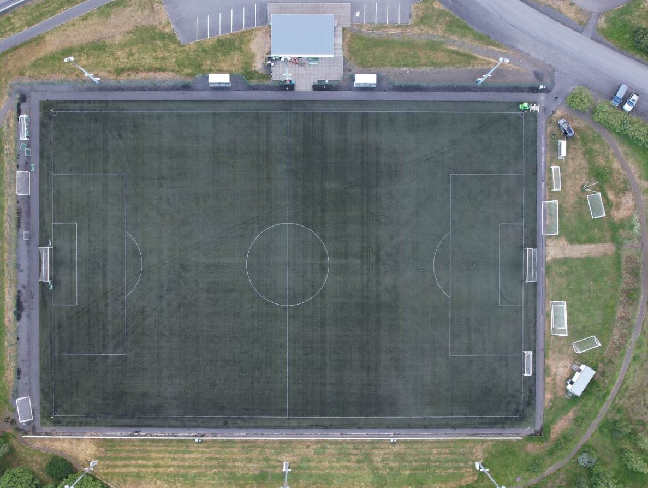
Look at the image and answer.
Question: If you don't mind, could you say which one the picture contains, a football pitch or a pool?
football pitch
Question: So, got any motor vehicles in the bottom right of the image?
No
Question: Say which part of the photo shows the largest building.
top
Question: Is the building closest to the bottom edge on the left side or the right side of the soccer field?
right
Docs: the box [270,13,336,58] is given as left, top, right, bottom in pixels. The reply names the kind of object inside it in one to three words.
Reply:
building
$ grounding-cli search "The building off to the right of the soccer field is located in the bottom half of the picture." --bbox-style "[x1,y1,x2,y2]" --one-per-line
[566,364,595,396]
